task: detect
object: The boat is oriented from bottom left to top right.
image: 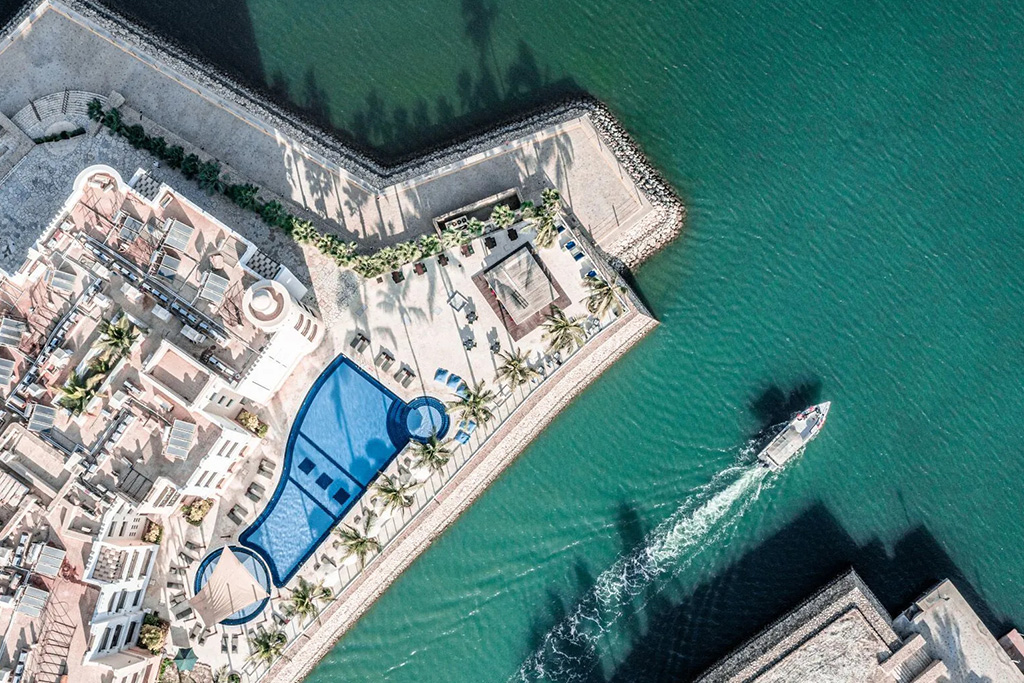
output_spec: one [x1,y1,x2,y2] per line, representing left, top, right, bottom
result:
[758,401,831,472]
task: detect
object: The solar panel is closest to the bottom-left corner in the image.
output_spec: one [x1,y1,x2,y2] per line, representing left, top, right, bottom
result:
[12,585,54,617]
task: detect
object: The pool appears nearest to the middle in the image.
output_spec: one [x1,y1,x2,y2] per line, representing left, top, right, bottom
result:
[403,397,451,444]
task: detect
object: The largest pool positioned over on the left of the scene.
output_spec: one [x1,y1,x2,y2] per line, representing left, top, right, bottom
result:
[238,350,453,592]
